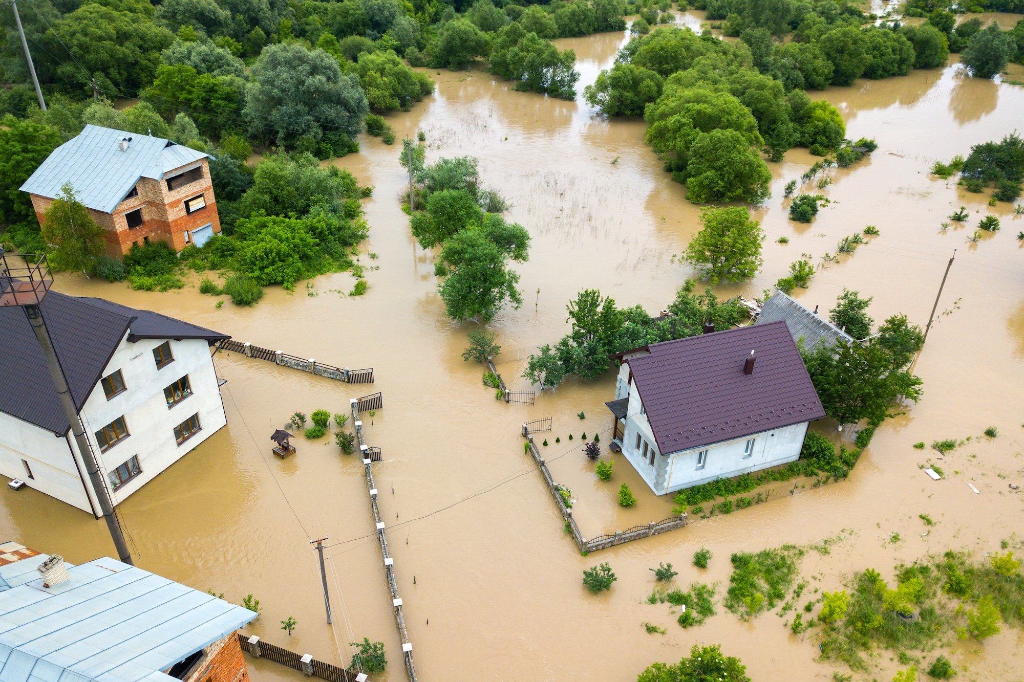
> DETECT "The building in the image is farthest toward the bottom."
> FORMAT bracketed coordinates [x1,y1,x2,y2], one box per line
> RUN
[0,537,260,682]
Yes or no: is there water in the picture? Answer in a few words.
Yes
